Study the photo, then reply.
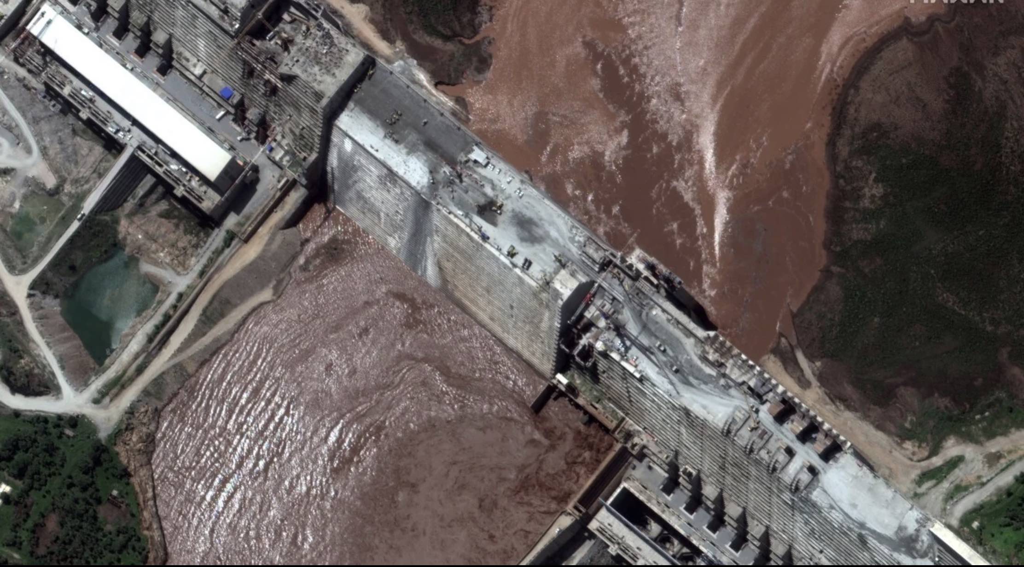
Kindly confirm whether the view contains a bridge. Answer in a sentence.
Yes, a bridge can be made out from above.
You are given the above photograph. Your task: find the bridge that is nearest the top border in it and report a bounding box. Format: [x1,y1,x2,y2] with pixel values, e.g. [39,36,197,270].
[74,146,145,230]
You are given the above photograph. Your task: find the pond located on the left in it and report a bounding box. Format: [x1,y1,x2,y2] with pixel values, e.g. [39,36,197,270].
[58,248,160,367]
